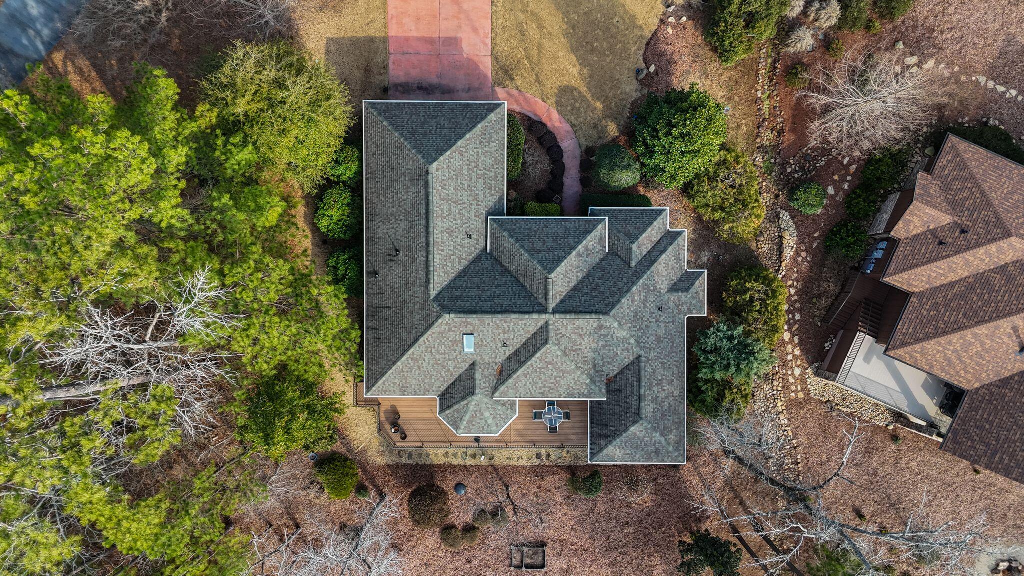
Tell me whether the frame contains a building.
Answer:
Yes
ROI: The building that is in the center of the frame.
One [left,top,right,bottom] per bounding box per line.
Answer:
[362,100,708,466]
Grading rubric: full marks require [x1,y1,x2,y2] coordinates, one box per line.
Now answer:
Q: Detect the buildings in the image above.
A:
[866,131,1024,486]
[362,100,708,466]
